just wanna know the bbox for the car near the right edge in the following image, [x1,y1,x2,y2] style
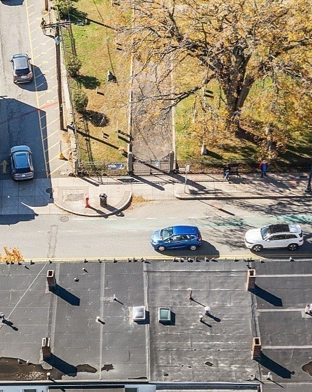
[243,223,305,251]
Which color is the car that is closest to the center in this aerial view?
blue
